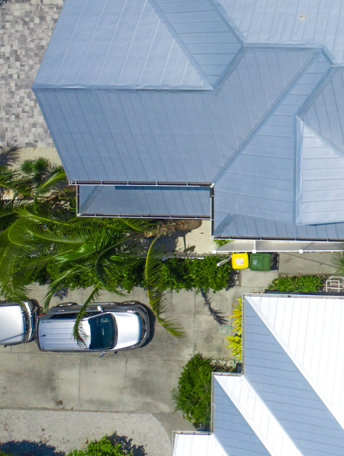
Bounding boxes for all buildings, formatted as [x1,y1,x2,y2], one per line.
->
[32,0,344,246]
[169,288,344,456]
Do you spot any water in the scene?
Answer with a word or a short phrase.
No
